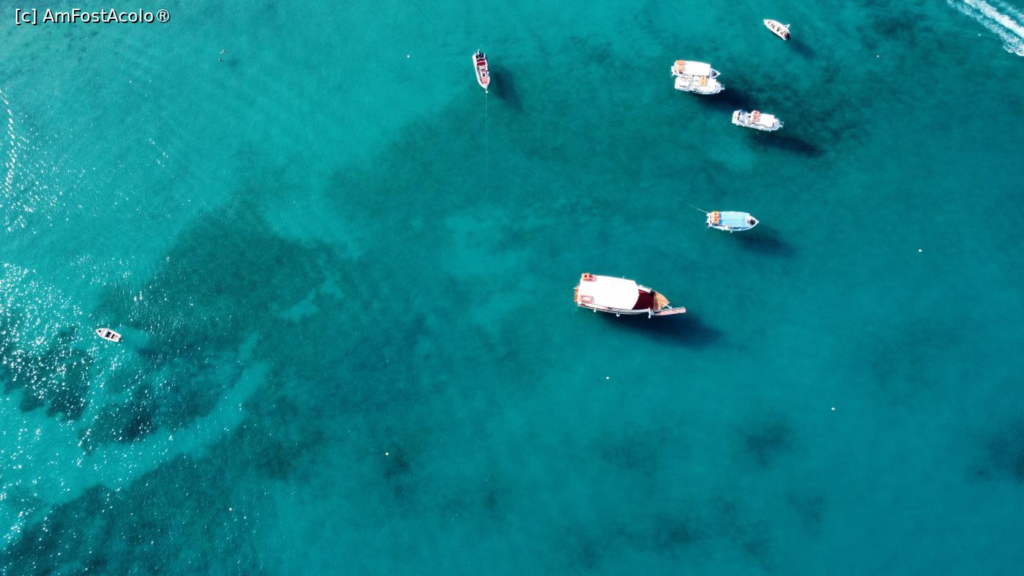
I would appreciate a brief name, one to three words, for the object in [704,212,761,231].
boat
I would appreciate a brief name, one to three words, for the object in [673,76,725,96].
boat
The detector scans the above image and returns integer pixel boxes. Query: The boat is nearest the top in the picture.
[764,19,790,42]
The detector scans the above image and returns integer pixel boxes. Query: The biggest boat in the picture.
[574,275,686,318]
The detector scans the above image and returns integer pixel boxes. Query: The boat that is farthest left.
[95,328,124,343]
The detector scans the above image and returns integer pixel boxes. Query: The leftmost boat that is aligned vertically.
[473,47,490,89]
